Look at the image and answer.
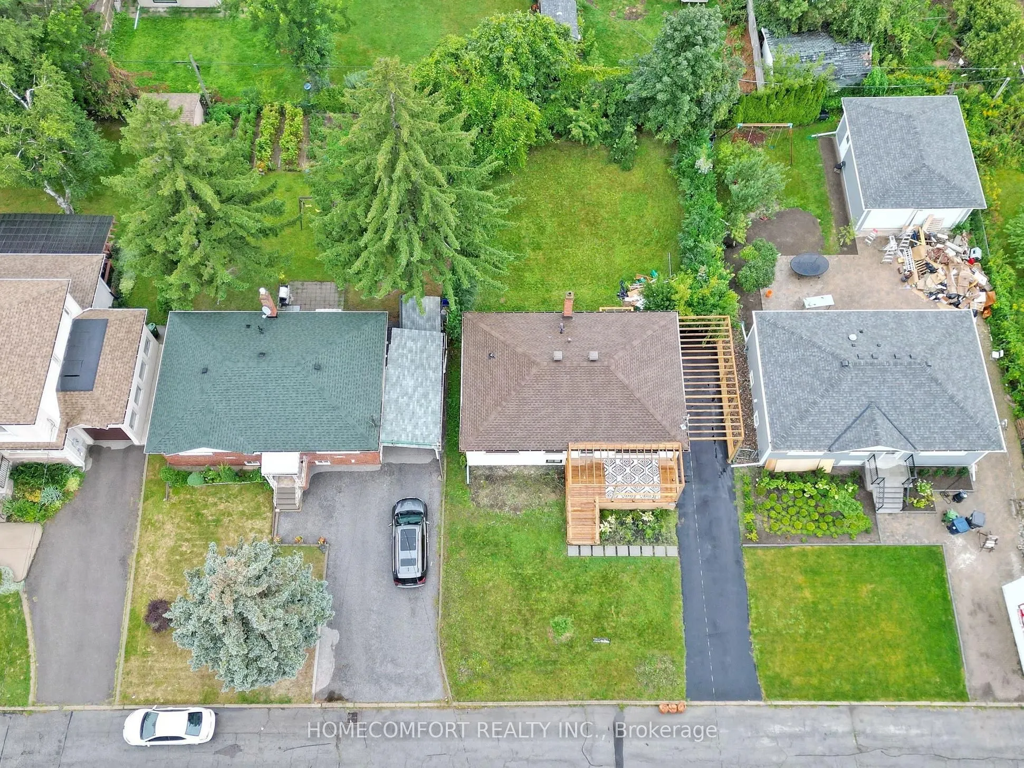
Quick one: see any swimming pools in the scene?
No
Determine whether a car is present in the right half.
No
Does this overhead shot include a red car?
No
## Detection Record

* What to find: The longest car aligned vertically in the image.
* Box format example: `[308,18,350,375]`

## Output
[389,498,433,587]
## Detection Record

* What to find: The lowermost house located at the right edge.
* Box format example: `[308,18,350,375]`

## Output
[734,310,1012,482]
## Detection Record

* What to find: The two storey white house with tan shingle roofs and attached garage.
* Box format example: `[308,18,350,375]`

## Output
[0,252,159,472]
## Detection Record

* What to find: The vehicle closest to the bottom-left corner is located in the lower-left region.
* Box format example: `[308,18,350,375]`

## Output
[122,704,218,753]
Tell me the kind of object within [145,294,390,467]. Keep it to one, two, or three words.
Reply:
house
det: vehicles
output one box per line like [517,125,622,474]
[122,704,218,753]
[389,498,433,587]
